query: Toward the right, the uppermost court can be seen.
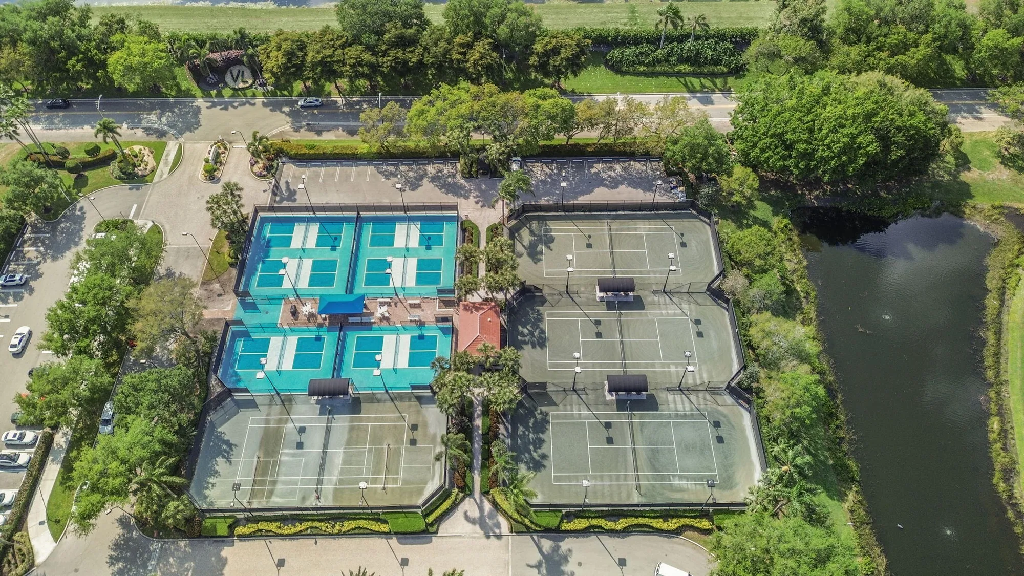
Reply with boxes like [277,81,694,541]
[512,212,722,291]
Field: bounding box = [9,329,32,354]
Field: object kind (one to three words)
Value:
car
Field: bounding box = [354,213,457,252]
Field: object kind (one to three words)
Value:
sports court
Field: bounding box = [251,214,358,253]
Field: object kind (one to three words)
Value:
sports court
